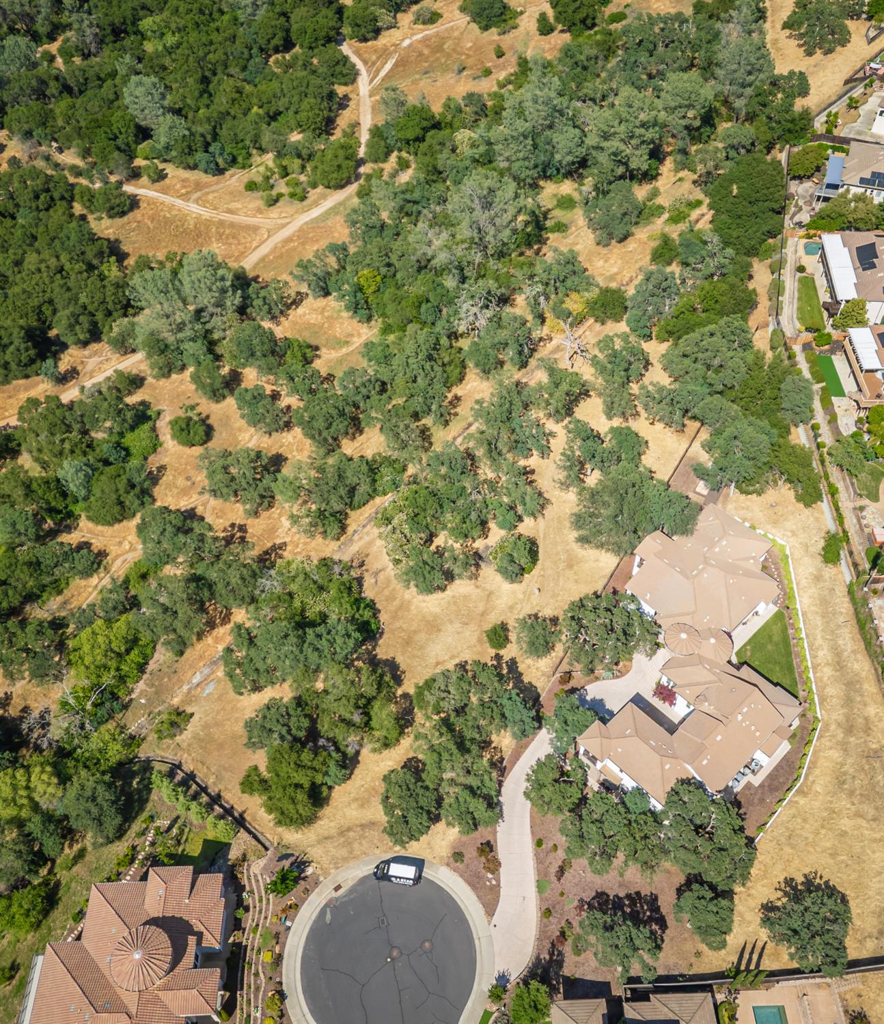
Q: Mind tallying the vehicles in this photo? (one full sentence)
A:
The photo contains exactly 1 vehicle.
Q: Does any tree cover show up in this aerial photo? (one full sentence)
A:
Yes, some tree cover is visible.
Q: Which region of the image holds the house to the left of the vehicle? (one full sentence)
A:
The house to the left of the vehicle is in the bottom left part of the image.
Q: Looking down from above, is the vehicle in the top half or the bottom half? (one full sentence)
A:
The bottom half of the photo is where the vehicle is.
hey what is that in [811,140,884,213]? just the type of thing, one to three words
house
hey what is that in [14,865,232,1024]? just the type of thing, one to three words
house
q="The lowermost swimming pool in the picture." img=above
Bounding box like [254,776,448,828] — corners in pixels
[752,1004,789,1024]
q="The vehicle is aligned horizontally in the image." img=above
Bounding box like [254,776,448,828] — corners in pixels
[370,859,422,886]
